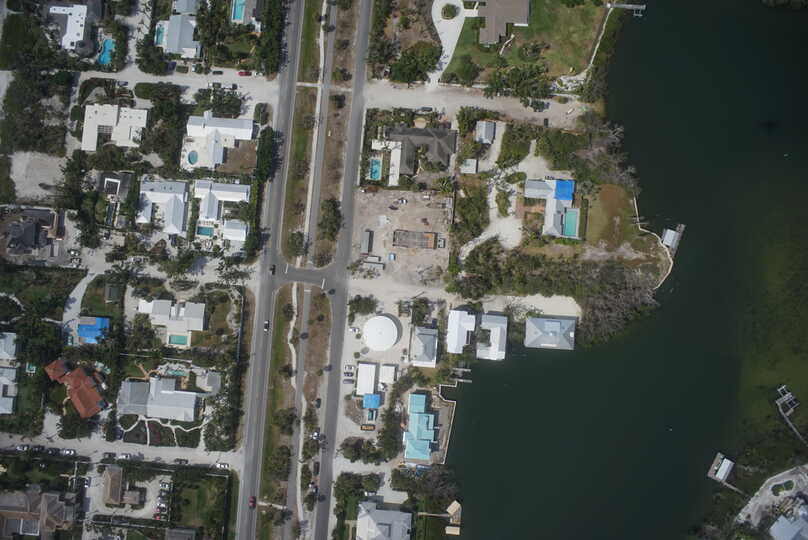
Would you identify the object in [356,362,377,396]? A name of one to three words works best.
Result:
building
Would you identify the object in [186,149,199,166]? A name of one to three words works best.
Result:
swimming pool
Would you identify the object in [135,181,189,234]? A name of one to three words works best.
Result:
house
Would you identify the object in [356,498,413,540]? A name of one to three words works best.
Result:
house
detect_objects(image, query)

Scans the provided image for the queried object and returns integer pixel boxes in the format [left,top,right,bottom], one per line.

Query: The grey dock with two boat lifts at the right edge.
[775,384,808,447]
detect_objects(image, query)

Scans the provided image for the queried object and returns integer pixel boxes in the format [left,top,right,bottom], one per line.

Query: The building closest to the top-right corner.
[661,223,686,257]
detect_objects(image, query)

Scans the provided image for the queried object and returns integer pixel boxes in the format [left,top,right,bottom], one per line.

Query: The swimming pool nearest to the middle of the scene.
[369,158,383,180]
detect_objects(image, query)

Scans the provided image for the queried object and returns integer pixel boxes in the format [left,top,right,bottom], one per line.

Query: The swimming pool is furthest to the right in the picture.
[564,210,578,237]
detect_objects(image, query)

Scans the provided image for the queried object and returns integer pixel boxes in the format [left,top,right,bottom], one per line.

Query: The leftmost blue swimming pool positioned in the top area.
[98,38,116,65]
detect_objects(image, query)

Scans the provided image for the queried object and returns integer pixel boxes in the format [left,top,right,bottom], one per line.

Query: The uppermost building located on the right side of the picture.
[478,0,530,47]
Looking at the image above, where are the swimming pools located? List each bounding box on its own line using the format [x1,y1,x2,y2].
[186,149,199,166]
[564,210,578,237]
[369,158,383,180]
[98,38,116,65]
[105,202,115,226]
[155,24,165,46]
[166,369,191,377]
[368,410,375,422]
[167,334,189,346]
[196,226,214,237]
[232,0,245,21]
